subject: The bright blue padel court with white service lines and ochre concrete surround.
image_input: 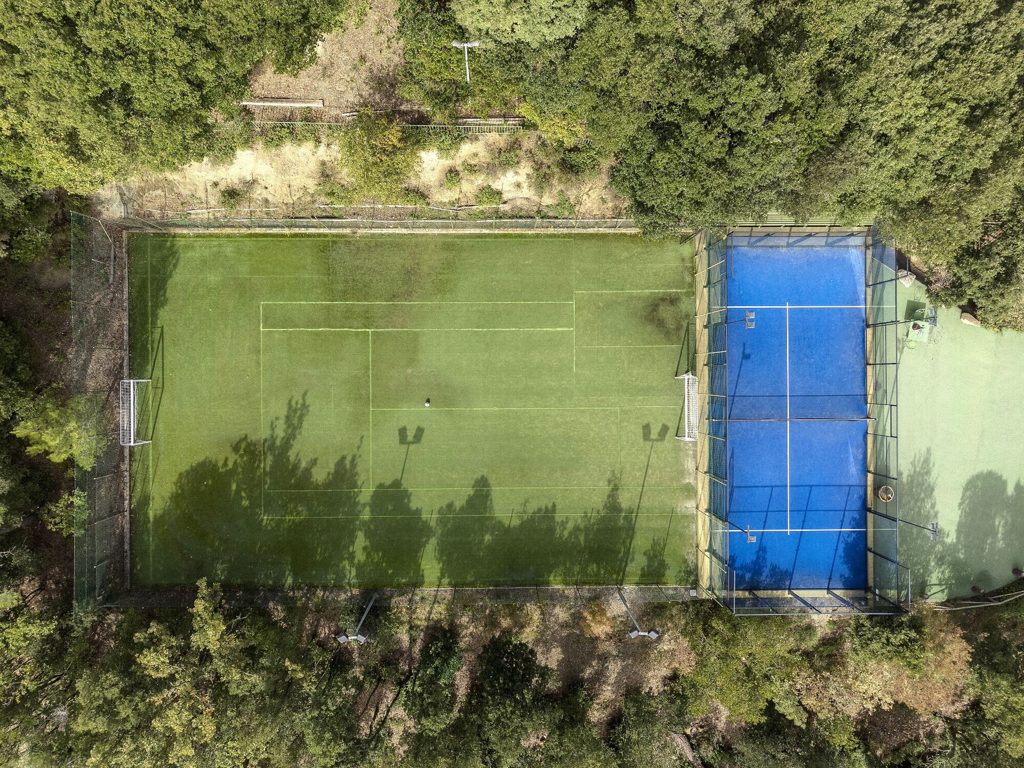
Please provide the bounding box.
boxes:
[696,226,876,599]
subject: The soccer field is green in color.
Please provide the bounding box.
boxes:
[123,225,696,591]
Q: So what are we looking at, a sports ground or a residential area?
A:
sports ground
